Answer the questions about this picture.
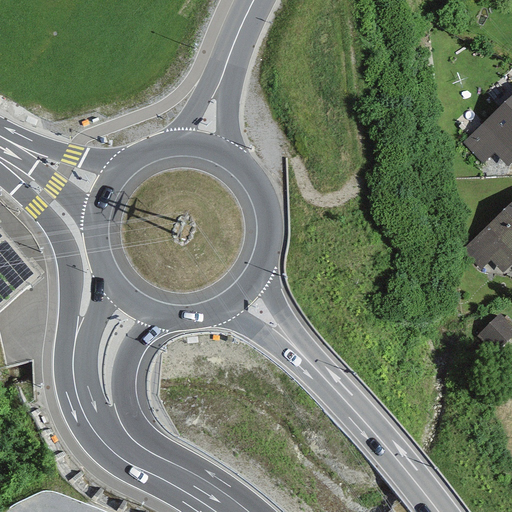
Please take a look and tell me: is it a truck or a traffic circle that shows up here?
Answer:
traffic circle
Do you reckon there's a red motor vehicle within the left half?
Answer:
No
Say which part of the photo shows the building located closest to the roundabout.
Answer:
left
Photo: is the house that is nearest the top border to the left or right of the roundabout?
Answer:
to the right of it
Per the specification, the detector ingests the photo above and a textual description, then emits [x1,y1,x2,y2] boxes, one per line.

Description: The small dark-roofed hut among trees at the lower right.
[478,312,512,348]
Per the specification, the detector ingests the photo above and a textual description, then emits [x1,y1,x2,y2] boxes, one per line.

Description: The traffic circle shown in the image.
[80,127,284,332]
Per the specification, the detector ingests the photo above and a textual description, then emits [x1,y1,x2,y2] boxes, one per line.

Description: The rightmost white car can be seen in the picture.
[282,346,302,367]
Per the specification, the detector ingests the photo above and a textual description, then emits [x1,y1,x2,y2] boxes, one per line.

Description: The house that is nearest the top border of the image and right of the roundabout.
[464,95,512,170]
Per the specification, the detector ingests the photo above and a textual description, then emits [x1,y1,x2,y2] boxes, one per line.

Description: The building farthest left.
[0,227,44,310]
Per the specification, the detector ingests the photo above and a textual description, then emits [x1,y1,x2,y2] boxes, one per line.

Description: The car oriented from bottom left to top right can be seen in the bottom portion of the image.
[142,324,162,346]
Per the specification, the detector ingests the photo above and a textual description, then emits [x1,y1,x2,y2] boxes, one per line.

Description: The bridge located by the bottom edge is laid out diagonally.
[338,422,466,512]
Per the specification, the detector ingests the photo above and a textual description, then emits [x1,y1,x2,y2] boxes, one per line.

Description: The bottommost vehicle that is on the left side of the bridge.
[128,467,149,484]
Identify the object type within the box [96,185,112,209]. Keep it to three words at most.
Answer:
car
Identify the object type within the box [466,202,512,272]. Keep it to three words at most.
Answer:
house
